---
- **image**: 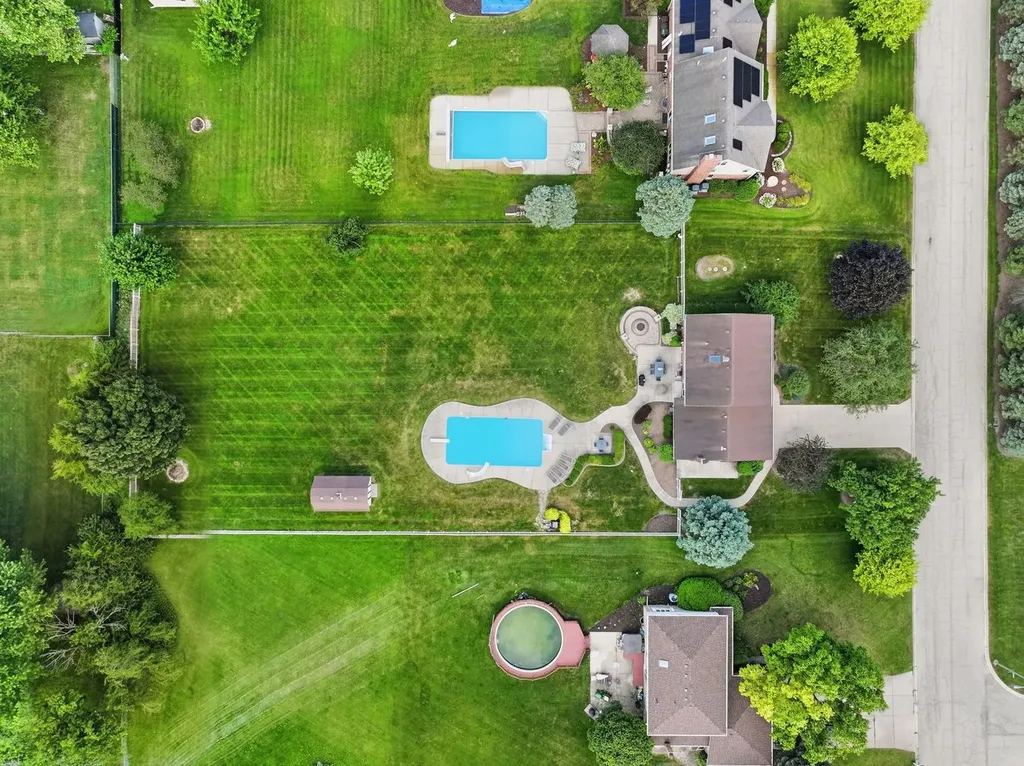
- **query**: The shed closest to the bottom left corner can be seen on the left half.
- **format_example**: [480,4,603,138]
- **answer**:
[310,475,377,512]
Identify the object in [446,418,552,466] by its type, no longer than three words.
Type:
swimming pool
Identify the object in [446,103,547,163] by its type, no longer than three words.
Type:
swimming pool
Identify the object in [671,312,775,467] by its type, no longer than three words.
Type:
house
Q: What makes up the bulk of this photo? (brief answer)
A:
grass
